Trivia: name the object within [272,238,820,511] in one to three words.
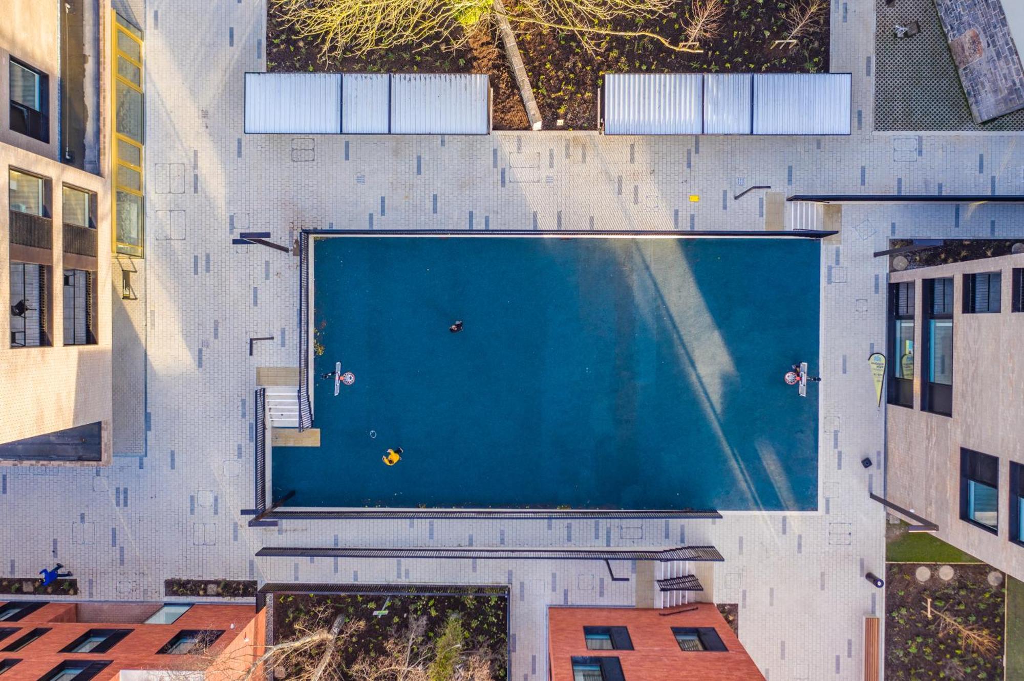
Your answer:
sports court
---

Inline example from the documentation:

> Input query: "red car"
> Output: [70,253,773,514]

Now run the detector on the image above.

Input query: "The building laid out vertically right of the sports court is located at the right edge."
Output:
[886,251,1024,582]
